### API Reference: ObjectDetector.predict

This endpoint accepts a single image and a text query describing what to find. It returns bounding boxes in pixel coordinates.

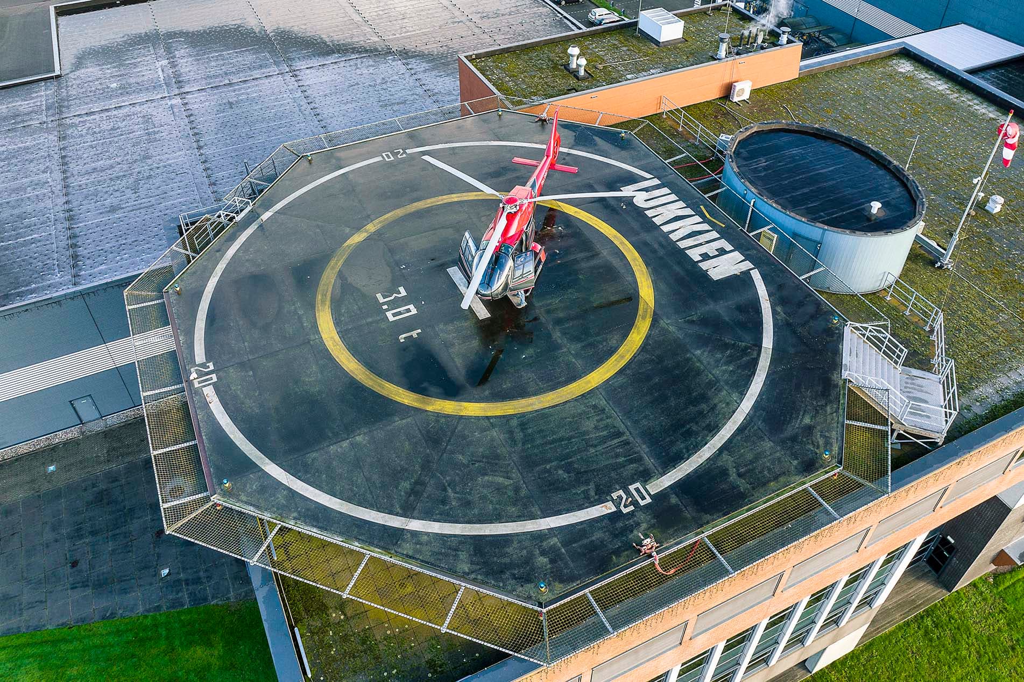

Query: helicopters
[418,101,645,305]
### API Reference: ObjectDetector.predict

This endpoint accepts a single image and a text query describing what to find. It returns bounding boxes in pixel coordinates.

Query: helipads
[123,95,892,668]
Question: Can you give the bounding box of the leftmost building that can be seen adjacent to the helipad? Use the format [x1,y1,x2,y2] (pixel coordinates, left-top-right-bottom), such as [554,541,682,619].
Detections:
[0,0,584,450]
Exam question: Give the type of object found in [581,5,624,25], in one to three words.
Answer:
car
